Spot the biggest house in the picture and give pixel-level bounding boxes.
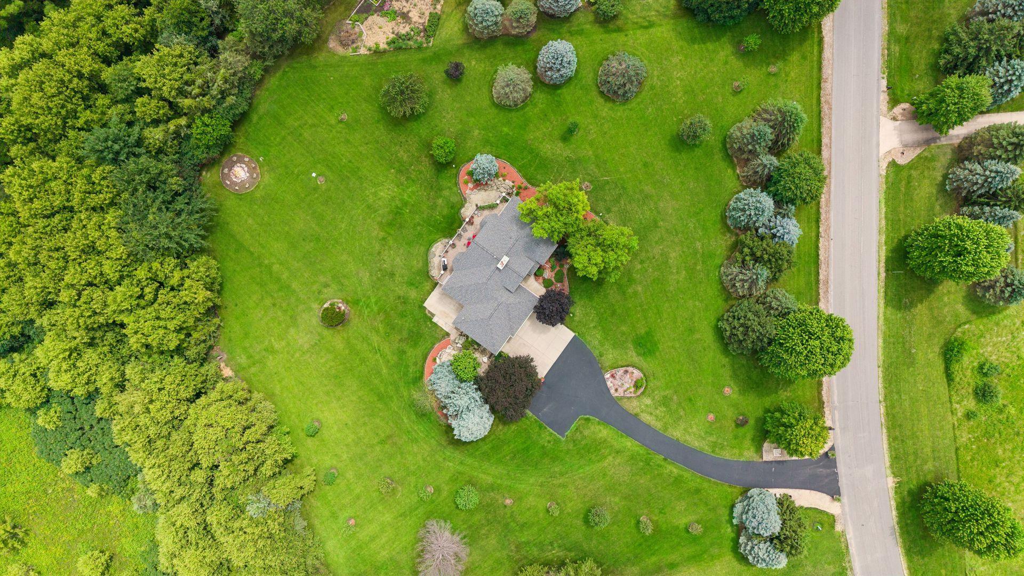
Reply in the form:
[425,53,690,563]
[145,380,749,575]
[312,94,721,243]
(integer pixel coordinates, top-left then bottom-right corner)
[439,195,558,356]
